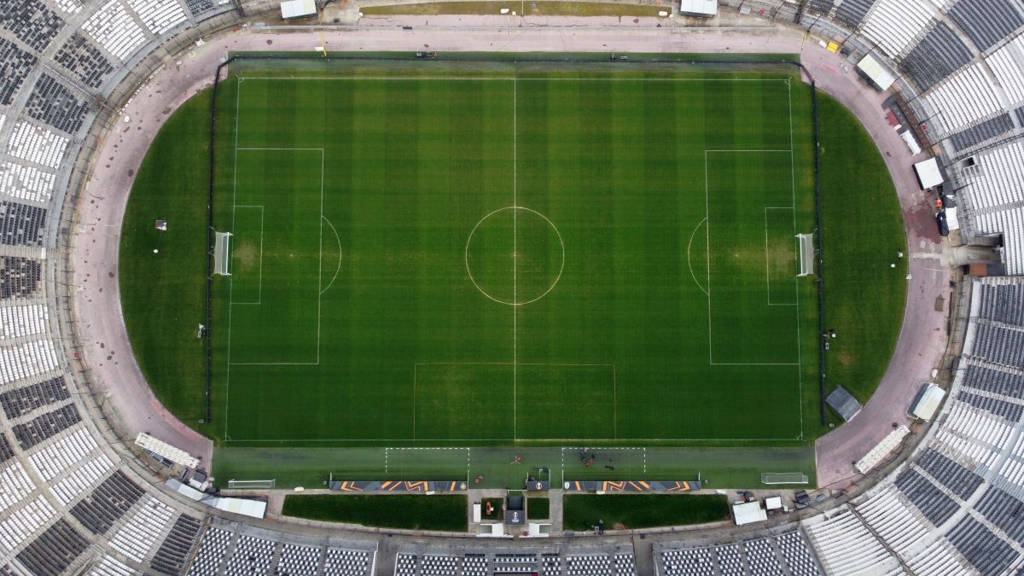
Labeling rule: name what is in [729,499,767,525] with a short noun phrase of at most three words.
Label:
tent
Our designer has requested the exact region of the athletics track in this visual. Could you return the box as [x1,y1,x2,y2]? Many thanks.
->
[74,16,952,490]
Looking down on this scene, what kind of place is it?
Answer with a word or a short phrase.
sports ground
